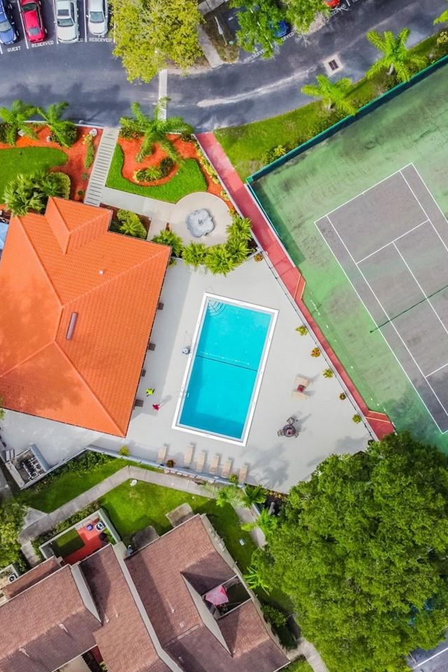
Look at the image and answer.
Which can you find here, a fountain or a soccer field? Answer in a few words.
fountain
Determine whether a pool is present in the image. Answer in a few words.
Yes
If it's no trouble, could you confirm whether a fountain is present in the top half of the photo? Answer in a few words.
Yes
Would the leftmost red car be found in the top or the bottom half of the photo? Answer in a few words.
top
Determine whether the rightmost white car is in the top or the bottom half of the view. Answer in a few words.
top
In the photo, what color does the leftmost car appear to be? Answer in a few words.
blue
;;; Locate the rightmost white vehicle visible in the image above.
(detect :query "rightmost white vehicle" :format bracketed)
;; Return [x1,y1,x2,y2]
[85,0,110,38]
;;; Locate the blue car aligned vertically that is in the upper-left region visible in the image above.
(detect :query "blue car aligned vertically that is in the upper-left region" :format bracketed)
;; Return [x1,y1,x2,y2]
[0,0,21,48]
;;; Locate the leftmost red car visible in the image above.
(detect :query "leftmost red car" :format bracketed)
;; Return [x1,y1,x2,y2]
[20,0,47,43]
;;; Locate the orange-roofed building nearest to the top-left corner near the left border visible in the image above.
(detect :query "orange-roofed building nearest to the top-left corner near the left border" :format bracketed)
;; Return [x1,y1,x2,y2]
[0,195,172,439]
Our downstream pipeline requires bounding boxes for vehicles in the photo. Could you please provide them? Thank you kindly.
[20,0,47,43]
[0,0,21,48]
[52,0,80,46]
[85,0,110,38]
[268,2,293,41]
